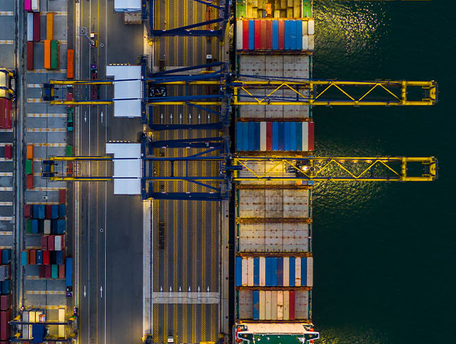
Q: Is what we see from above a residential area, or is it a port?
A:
port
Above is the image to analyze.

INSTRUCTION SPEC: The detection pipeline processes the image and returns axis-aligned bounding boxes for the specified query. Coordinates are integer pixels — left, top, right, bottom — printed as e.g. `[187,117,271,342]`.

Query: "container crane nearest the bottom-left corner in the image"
[7,306,80,344]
